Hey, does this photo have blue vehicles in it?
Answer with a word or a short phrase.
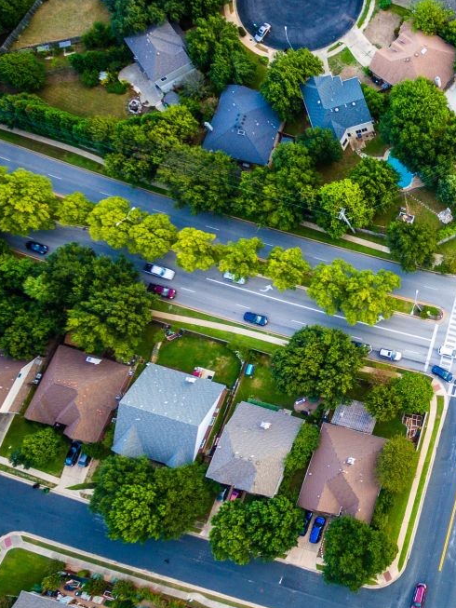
Yes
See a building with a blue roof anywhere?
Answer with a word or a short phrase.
Yes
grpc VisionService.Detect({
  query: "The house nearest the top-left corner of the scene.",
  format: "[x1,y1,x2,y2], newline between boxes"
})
[124,21,195,91]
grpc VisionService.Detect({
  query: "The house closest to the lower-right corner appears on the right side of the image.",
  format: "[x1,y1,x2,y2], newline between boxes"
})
[298,423,390,519]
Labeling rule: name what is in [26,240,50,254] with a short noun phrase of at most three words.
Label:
vehicle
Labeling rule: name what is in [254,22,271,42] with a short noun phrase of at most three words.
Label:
car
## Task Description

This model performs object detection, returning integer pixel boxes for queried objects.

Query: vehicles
[377,347,402,361]
[437,346,456,360]
[308,516,326,543]
[254,22,271,42]
[214,482,230,507]
[26,240,50,254]
[411,584,426,608]
[227,486,242,506]
[144,261,173,278]
[63,439,83,466]
[147,282,176,298]
[299,509,314,536]
[429,363,454,381]
[76,445,94,471]
[243,311,269,326]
